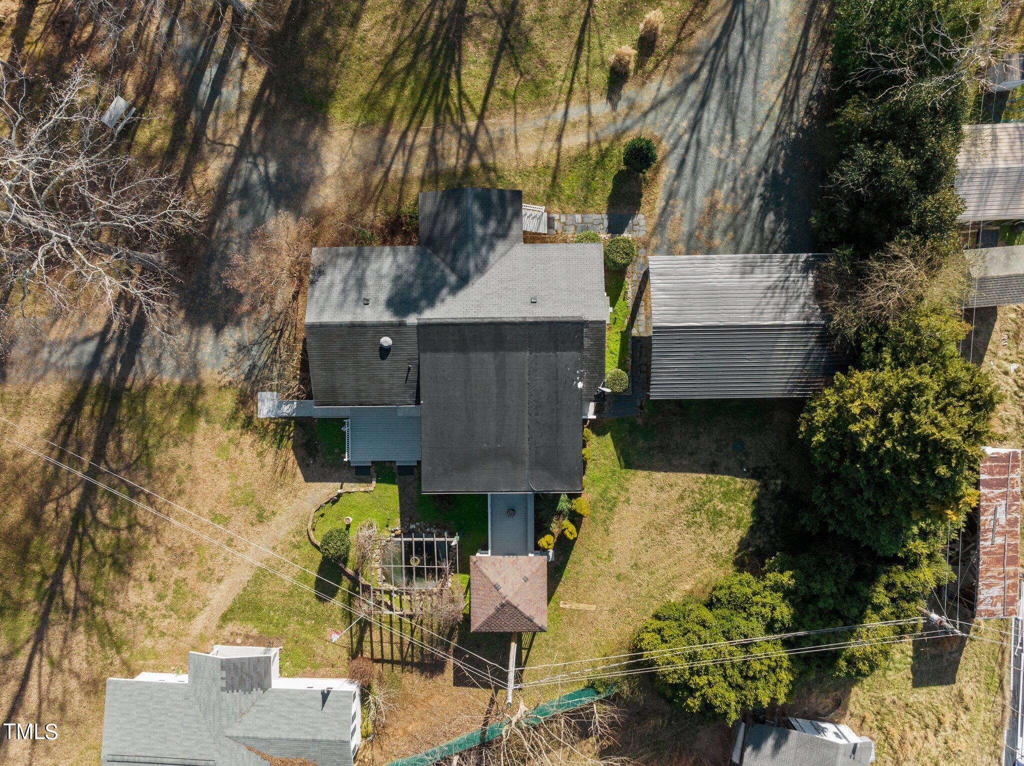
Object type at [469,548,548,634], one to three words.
gazebo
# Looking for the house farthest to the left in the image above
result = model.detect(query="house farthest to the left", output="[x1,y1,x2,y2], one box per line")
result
[96,646,360,766]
